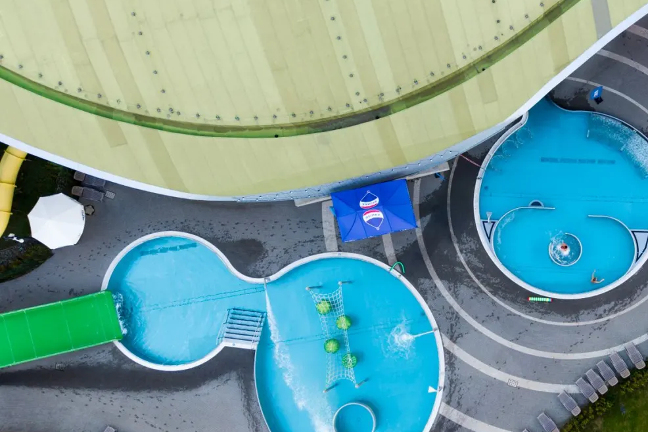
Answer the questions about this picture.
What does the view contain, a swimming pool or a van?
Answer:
swimming pool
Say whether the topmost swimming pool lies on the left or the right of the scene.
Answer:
right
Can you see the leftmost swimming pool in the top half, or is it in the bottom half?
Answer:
bottom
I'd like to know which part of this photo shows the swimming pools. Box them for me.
[103,231,446,432]
[473,92,648,300]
